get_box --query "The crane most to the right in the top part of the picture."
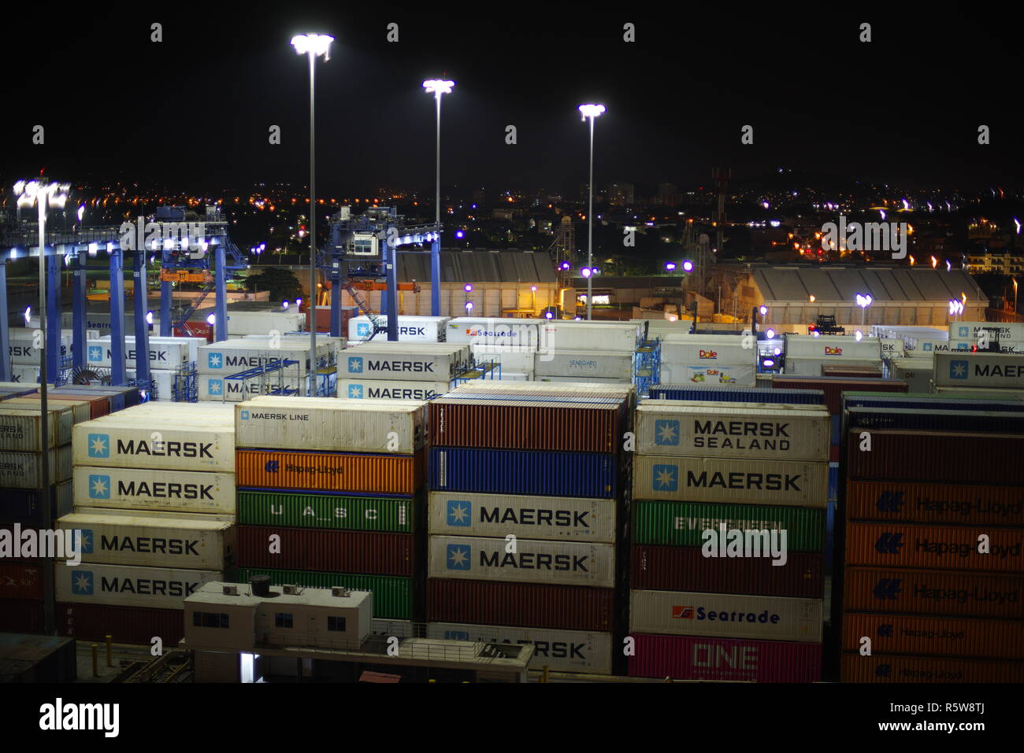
[310,187,443,389]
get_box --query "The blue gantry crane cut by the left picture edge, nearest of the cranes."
[0,223,130,387]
